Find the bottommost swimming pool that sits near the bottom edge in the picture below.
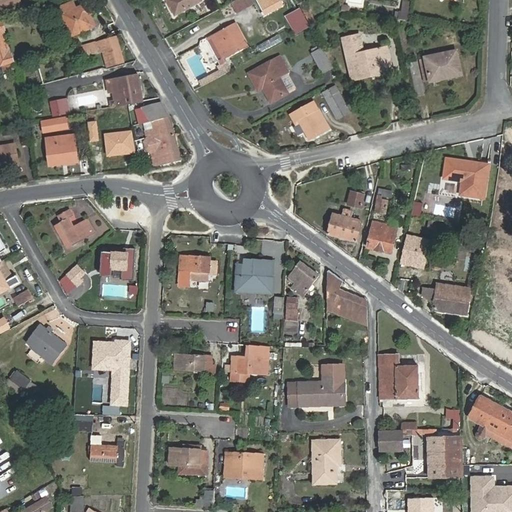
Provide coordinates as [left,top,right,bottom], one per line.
[225,486,246,500]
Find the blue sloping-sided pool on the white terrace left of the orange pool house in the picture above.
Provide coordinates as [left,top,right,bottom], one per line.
[186,52,207,78]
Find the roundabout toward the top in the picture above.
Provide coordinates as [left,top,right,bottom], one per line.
[189,148,267,226]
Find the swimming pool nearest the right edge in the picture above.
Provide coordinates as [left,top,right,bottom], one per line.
[433,203,459,218]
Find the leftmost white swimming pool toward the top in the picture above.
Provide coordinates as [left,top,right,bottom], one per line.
[76,93,98,107]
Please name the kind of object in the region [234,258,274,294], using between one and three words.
house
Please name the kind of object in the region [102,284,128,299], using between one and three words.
swimming pool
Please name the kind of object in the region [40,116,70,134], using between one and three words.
shed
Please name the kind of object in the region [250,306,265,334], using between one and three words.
swimming pool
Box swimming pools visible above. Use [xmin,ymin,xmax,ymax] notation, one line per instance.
[92,384,102,402]
[186,52,207,78]
[225,486,246,500]
[433,203,459,218]
[250,306,265,334]
[76,93,98,107]
[102,284,128,299]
